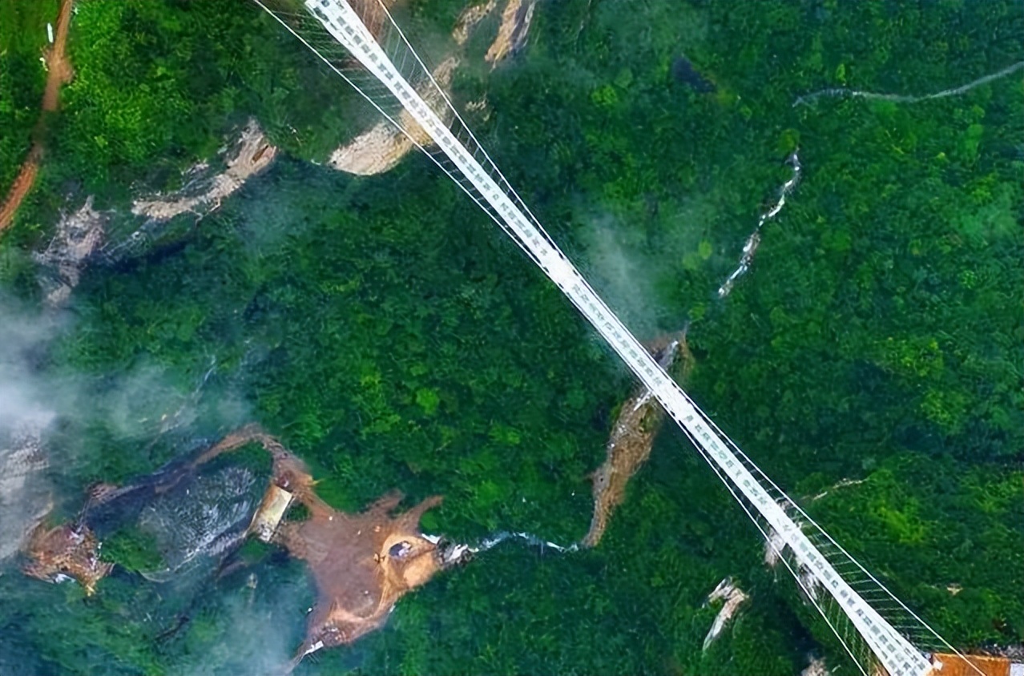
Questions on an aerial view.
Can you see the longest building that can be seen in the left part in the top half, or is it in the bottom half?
bottom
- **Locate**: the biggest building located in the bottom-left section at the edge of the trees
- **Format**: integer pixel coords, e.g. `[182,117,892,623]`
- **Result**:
[248,486,291,544]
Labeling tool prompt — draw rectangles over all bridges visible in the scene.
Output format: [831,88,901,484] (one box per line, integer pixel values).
[259,0,993,676]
